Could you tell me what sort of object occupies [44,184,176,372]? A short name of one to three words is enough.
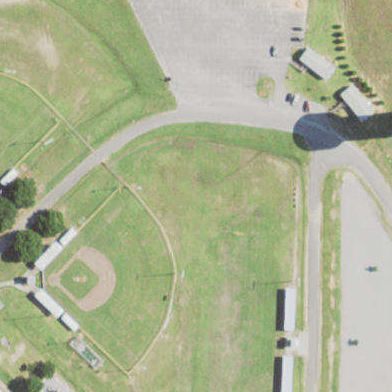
baseball field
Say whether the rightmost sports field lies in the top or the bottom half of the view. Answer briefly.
bottom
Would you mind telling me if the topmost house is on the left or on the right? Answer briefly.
right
